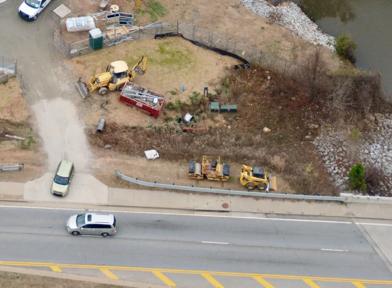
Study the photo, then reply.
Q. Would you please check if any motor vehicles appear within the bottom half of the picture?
Yes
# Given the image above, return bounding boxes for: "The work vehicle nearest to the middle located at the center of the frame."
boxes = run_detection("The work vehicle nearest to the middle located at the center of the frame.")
[188,160,230,183]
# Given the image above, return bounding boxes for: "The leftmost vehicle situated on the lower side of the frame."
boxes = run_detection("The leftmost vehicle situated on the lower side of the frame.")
[51,158,75,199]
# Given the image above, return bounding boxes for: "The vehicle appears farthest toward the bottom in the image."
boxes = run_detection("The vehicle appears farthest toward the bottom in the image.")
[66,215,117,239]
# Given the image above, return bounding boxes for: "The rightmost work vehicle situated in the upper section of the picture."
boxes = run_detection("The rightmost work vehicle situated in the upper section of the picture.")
[79,49,144,108]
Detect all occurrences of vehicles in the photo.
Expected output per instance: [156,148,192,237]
[188,160,230,183]
[16,0,49,17]
[66,215,117,239]
[79,49,144,108]
[244,168,275,193]
[51,158,75,199]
